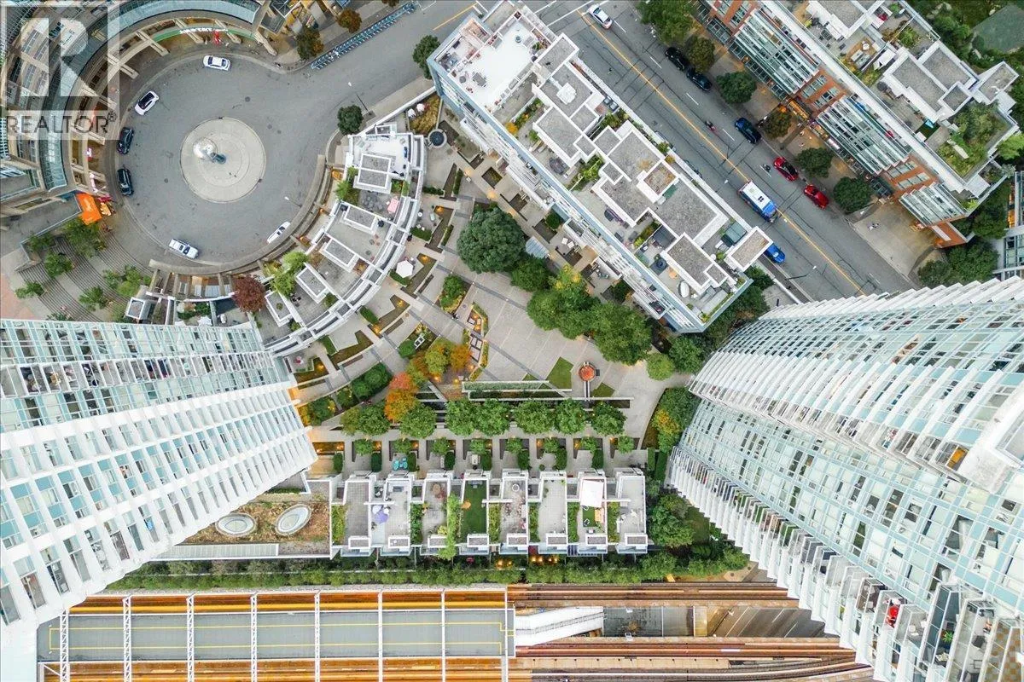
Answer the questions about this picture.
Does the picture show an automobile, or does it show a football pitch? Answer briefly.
automobile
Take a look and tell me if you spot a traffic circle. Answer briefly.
Yes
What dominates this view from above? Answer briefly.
buildings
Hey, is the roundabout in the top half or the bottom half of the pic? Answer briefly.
top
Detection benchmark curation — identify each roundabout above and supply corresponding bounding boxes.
[120,57,325,262]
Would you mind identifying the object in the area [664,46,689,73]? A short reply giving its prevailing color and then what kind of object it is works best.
black car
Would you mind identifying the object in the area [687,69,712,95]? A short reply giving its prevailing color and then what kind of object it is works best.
black car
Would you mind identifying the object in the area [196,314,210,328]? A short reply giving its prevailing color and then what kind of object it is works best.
white umbrella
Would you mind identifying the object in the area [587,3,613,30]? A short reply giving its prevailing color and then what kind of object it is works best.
white car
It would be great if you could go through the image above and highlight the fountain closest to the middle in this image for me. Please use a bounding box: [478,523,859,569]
[577,361,600,400]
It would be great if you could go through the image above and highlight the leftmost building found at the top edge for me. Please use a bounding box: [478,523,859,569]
[0,0,313,258]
